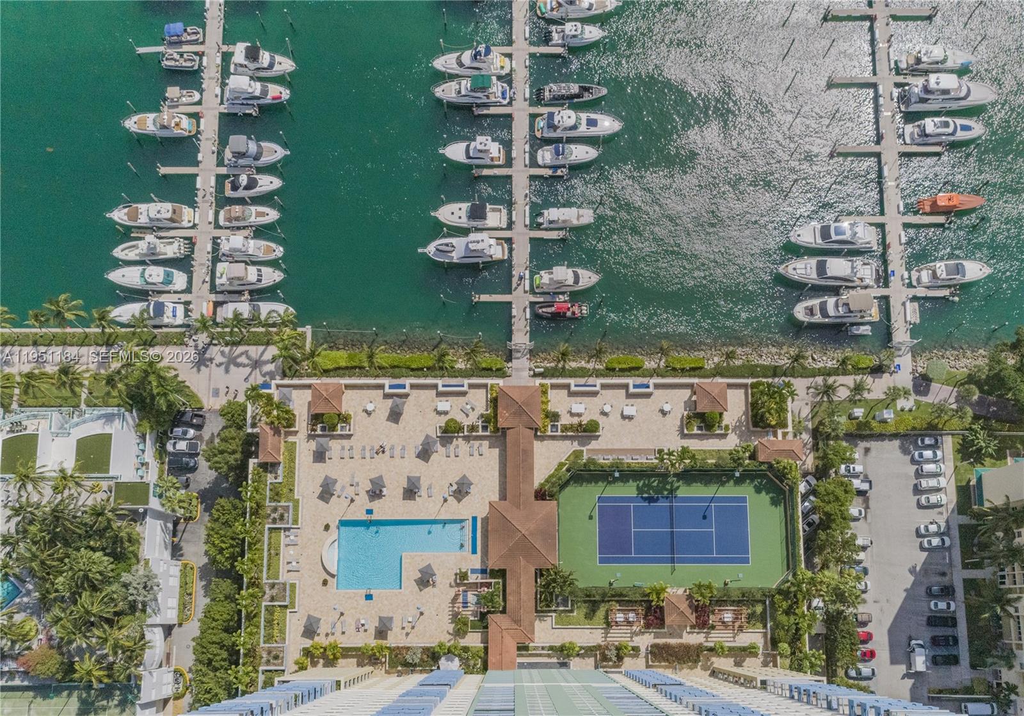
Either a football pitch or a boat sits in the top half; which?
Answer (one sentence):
The feature located in the top half is a boat.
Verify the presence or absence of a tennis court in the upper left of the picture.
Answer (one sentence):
No, there's no tennis court to be seen in the upper left of the picture.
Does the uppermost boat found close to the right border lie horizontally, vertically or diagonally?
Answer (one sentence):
Seen from above, the uppermost boat found close to the right border lies horizontally.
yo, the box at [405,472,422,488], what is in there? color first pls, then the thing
gray umbrella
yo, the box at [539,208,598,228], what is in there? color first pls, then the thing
white boat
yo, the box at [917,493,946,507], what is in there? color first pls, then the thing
white car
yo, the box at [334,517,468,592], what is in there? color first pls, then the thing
blue swimming pool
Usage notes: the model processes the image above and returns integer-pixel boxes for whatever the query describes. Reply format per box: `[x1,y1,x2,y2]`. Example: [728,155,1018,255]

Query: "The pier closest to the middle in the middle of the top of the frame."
[474,0,569,352]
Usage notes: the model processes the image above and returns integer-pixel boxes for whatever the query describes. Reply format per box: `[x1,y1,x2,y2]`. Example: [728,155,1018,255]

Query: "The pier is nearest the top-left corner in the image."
[131,0,259,322]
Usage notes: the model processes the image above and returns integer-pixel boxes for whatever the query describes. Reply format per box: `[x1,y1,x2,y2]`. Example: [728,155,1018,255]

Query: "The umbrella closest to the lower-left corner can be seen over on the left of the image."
[302,612,324,632]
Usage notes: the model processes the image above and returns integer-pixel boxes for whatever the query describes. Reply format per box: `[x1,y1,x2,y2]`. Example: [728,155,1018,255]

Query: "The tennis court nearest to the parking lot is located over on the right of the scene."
[558,474,787,587]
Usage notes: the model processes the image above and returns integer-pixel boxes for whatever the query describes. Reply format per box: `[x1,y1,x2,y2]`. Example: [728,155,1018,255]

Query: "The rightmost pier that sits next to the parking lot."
[831,0,951,351]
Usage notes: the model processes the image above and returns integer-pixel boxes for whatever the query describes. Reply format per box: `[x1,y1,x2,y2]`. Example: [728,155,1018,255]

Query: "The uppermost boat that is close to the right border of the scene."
[896,48,977,76]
